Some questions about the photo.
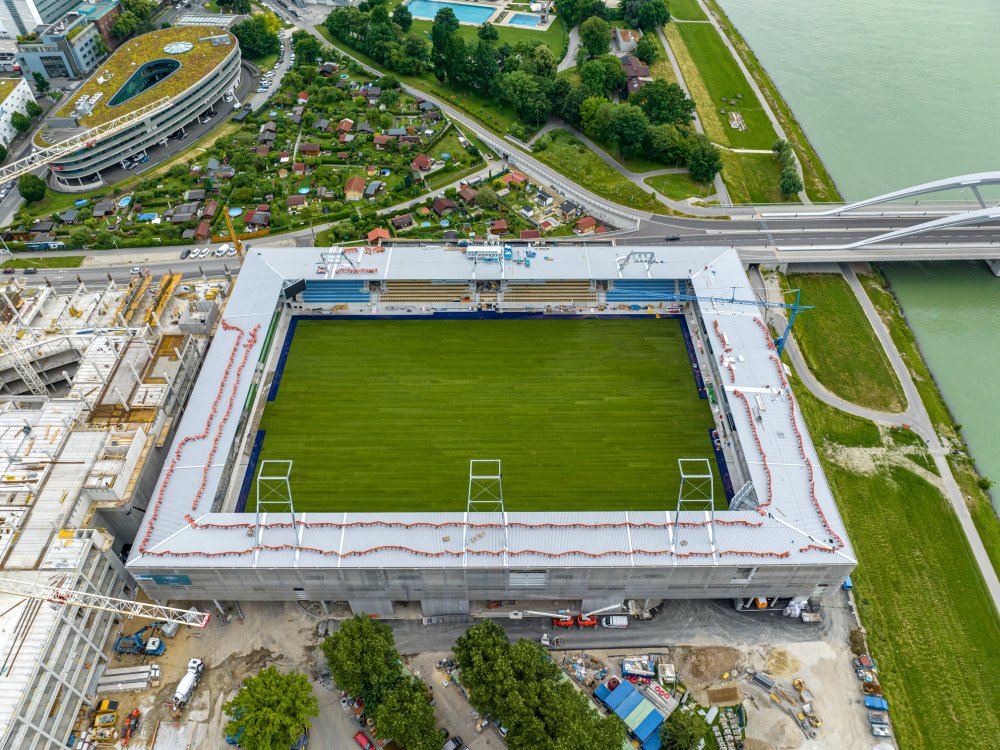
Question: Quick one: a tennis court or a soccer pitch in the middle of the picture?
soccer pitch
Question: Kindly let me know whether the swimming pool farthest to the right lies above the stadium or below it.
above it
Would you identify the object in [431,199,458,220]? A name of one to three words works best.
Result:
shed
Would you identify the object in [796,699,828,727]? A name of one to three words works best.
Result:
work vehicle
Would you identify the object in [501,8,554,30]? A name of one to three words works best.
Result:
swimming pool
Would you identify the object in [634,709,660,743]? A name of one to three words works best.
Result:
building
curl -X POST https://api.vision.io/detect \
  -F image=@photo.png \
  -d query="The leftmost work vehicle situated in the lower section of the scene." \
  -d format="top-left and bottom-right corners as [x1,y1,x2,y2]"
[113,699,152,740]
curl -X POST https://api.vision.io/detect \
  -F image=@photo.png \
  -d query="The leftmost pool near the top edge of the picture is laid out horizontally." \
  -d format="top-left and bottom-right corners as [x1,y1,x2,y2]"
[403,0,514,27]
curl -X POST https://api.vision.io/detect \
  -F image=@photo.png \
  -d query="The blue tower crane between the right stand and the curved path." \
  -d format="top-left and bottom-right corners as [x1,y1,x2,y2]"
[605,267,845,358]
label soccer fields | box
[233,311,733,511]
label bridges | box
[729,174,1000,297]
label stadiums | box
[124,246,857,622]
